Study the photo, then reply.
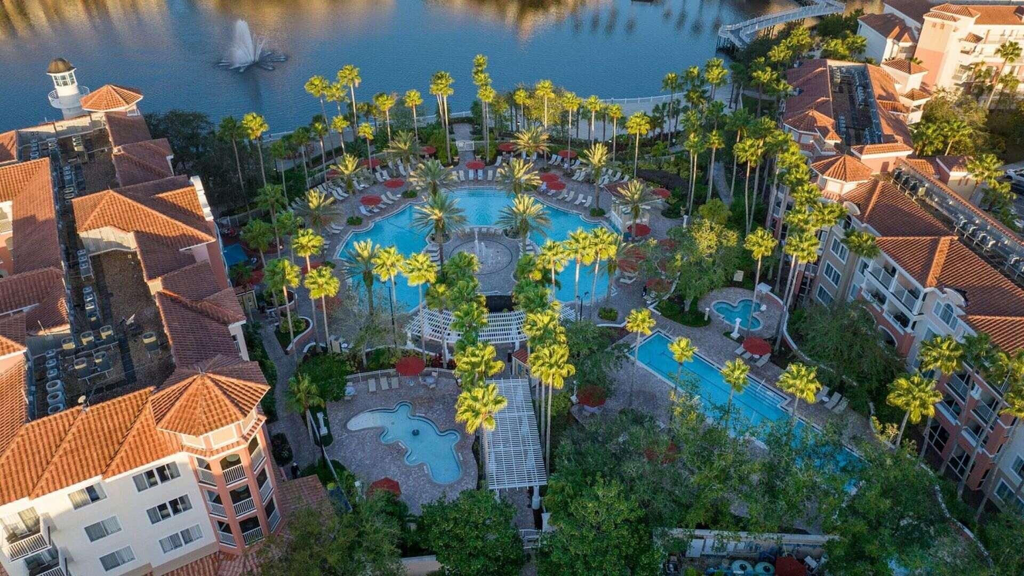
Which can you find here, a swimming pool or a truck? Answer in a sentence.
It is a swimming pool that can be seen here.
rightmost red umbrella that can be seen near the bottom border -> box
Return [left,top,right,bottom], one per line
[773,553,807,576]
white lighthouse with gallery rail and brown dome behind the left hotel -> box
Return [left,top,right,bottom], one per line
[50,56,93,121]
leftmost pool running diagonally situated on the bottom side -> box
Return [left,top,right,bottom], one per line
[346,401,463,485]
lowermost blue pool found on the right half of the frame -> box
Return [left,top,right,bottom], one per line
[627,327,877,498]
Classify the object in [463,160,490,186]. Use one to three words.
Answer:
umbrella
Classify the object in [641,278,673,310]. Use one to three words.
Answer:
umbrella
